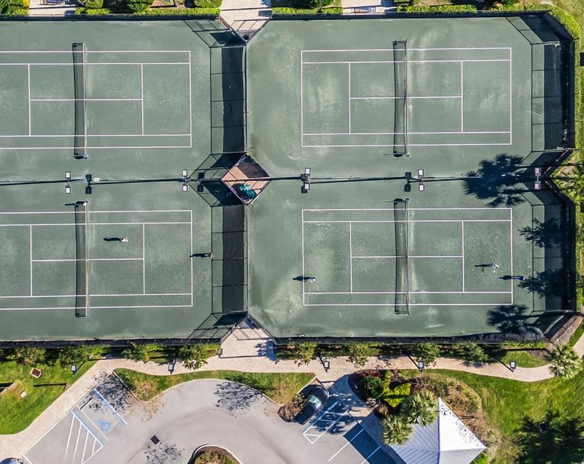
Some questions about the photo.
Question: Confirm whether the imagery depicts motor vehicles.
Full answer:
Yes, the image includes a motor vehicle.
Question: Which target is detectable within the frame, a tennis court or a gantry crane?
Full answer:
Visible in the photo is a tennis court.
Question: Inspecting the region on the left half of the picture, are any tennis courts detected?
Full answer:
Yes, a tennis court can be seen on the left half of the picture.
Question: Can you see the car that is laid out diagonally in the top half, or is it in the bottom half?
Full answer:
It is in the bottom half that the car that is laid out diagonally appears.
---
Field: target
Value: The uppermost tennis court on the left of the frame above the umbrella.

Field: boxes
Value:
[0,19,247,182]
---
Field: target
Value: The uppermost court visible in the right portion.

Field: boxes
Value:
[247,16,564,178]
